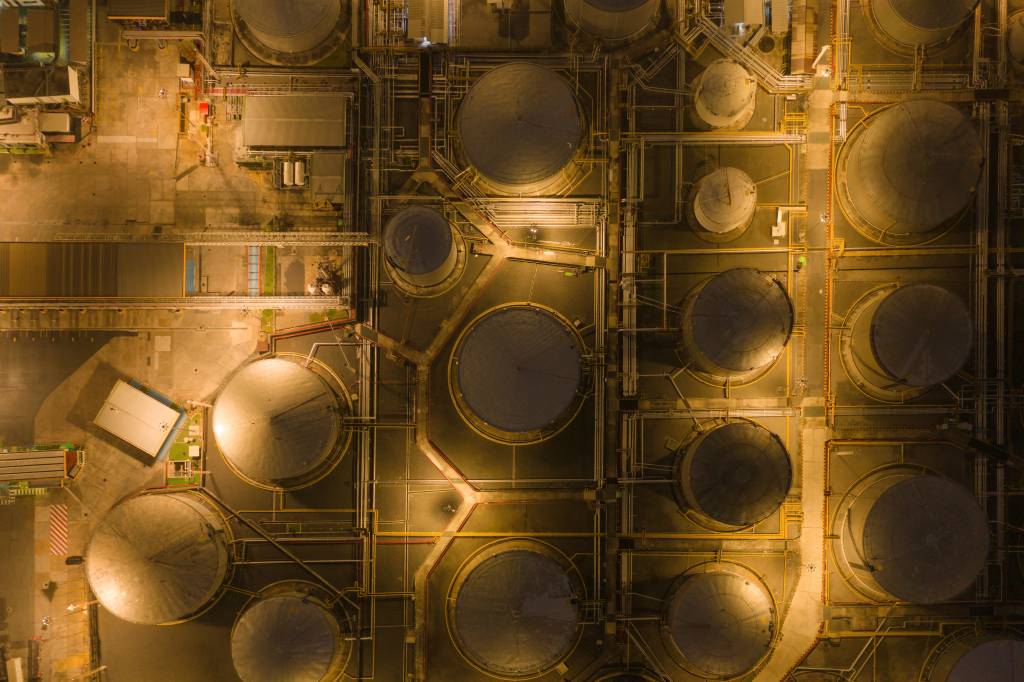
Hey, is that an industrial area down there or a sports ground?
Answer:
industrial area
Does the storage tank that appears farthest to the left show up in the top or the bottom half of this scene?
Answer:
bottom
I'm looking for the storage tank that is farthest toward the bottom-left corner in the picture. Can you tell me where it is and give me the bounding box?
[86,484,235,629]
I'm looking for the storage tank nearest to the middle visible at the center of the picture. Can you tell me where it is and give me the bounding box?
[447,300,593,445]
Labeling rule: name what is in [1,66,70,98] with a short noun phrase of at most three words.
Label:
building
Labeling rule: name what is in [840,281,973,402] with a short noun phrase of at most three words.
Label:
storage tank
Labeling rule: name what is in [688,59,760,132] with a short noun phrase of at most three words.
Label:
storage tank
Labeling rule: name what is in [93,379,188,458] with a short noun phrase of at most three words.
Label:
building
